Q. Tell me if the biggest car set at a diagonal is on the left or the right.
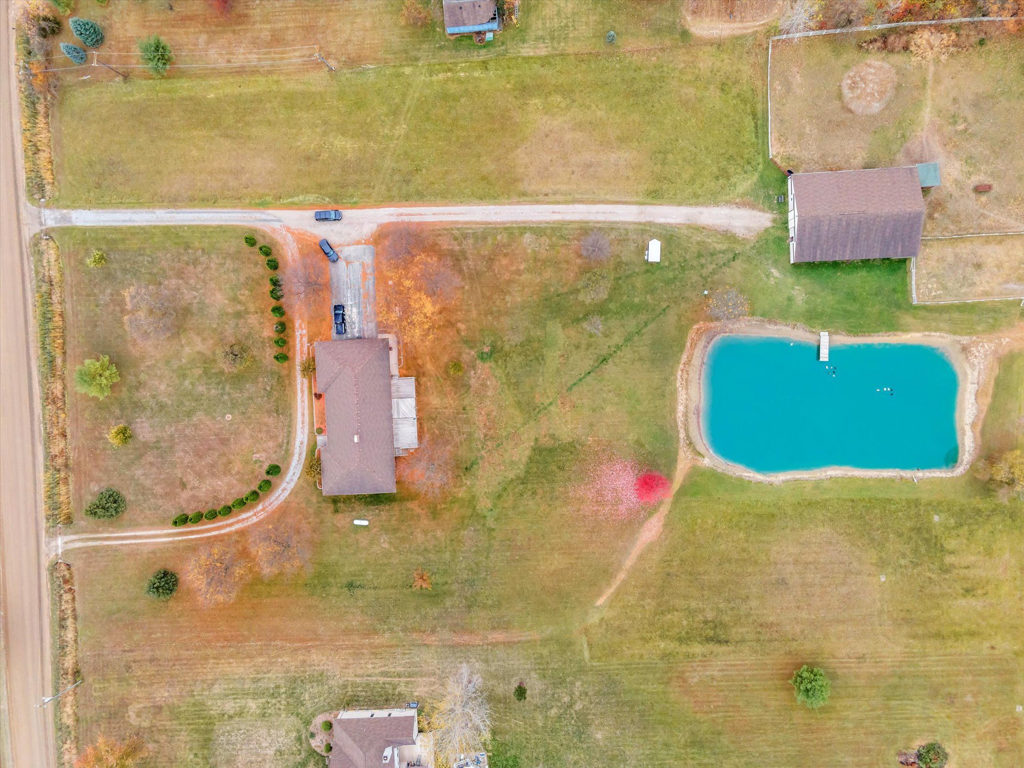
left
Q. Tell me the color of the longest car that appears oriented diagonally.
blue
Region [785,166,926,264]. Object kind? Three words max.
barn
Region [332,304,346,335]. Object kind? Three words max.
vehicle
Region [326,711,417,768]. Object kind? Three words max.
house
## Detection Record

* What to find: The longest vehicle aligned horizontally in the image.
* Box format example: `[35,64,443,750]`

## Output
[314,208,341,221]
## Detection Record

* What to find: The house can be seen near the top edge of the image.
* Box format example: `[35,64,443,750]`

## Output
[443,0,499,37]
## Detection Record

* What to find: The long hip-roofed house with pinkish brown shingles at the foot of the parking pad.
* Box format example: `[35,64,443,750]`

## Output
[315,338,396,495]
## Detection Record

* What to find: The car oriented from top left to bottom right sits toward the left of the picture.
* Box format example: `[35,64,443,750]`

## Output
[317,237,338,262]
